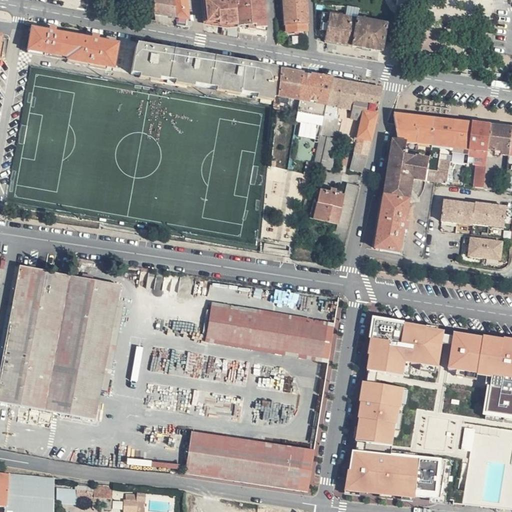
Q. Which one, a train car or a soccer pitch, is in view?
soccer pitch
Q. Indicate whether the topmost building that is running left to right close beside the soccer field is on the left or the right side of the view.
left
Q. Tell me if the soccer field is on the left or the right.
left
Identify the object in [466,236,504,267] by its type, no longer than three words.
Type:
house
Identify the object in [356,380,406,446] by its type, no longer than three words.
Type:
building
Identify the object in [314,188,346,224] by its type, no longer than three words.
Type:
house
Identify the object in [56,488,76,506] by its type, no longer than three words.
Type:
shed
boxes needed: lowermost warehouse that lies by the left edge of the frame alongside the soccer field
[0,265,120,425]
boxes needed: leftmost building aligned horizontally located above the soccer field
[28,22,120,69]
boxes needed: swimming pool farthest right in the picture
[462,424,512,508]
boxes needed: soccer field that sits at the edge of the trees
[7,66,273,250]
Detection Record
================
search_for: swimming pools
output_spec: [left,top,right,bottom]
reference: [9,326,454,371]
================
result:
[144,494,176,512]
[462,424,512,508]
